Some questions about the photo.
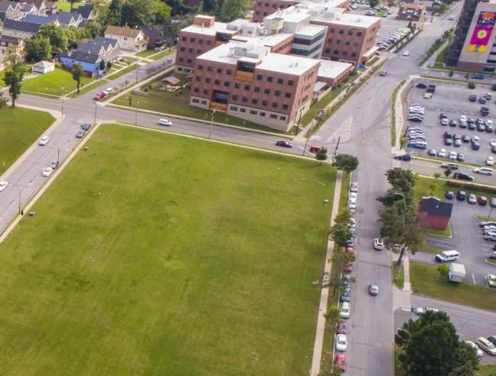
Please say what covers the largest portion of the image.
grass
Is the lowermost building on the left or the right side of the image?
right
